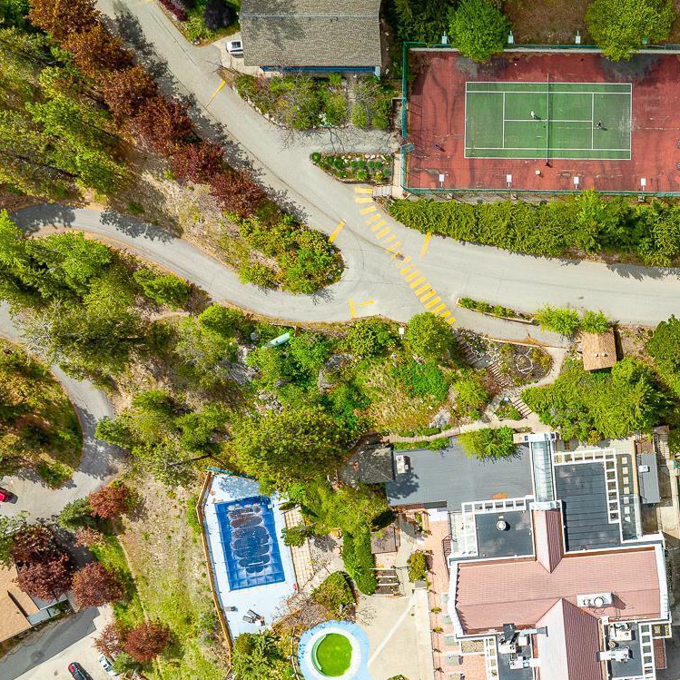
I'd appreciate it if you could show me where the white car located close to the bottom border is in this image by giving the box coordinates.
[98,652,119,679]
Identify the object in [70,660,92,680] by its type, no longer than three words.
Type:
car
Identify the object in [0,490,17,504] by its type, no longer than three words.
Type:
car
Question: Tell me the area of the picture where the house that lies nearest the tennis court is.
top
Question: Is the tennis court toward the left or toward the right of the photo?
right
